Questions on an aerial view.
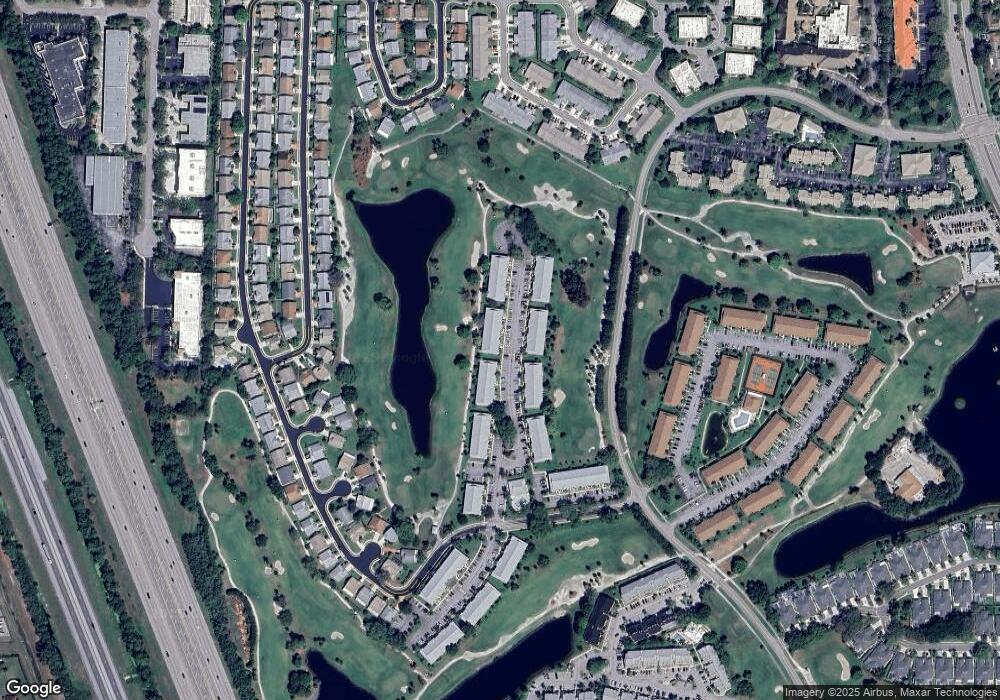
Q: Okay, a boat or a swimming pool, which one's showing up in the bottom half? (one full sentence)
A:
Looking in the bottom half, you will find a swimming pool.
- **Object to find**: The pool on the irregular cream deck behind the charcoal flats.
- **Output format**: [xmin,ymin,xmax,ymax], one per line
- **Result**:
[671,622,710,644]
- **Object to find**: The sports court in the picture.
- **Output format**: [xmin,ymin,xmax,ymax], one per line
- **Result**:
[745,355,782,396]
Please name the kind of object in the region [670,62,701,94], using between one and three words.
building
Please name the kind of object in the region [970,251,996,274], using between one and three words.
building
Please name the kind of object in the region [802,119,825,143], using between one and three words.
swimming pool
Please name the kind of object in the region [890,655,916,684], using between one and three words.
house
